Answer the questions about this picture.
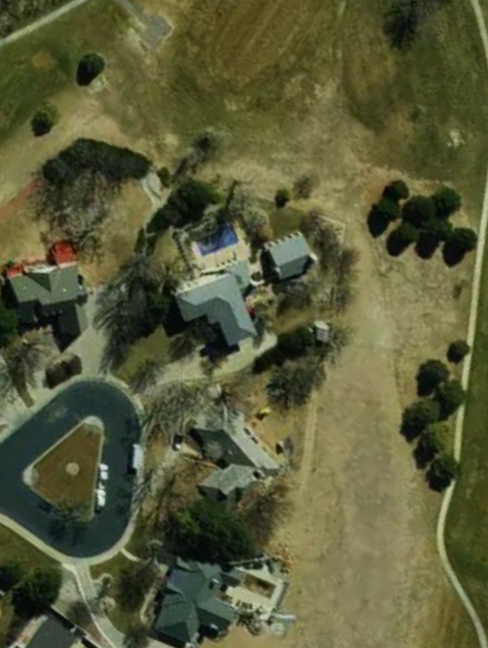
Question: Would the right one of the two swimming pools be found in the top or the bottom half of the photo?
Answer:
bottom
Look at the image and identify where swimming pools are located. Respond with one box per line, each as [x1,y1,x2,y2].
[241,572,278,599]
[196,222,240,258]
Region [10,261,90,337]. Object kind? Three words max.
house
